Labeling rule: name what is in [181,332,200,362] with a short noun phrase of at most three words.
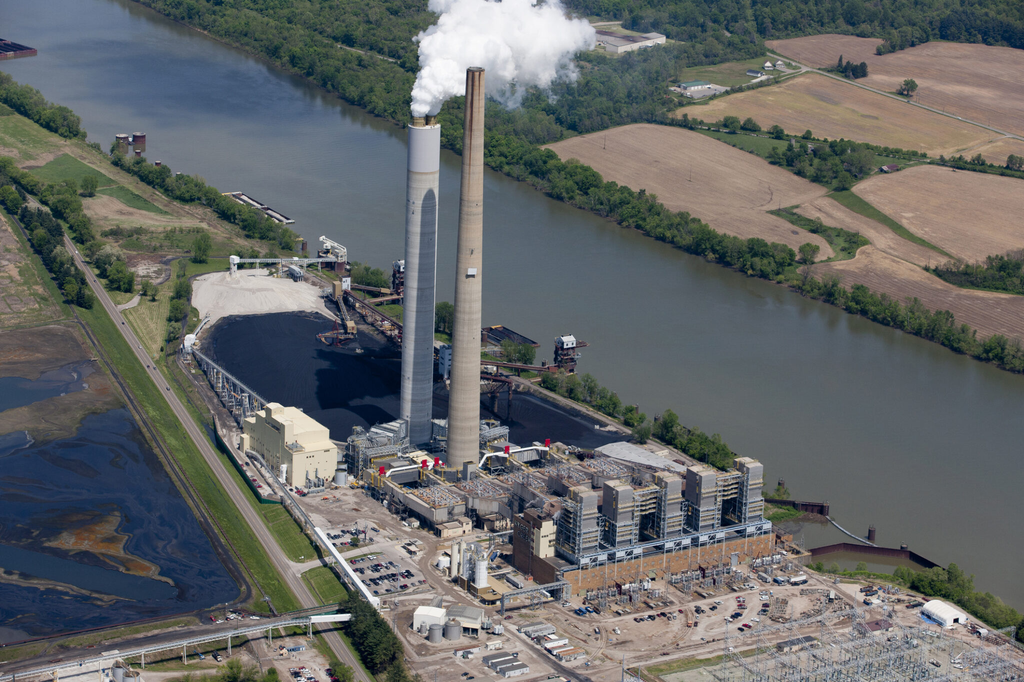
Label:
house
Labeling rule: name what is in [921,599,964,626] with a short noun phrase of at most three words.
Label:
shed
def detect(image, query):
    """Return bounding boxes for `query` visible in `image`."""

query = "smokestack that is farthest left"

[399,111,440,439]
